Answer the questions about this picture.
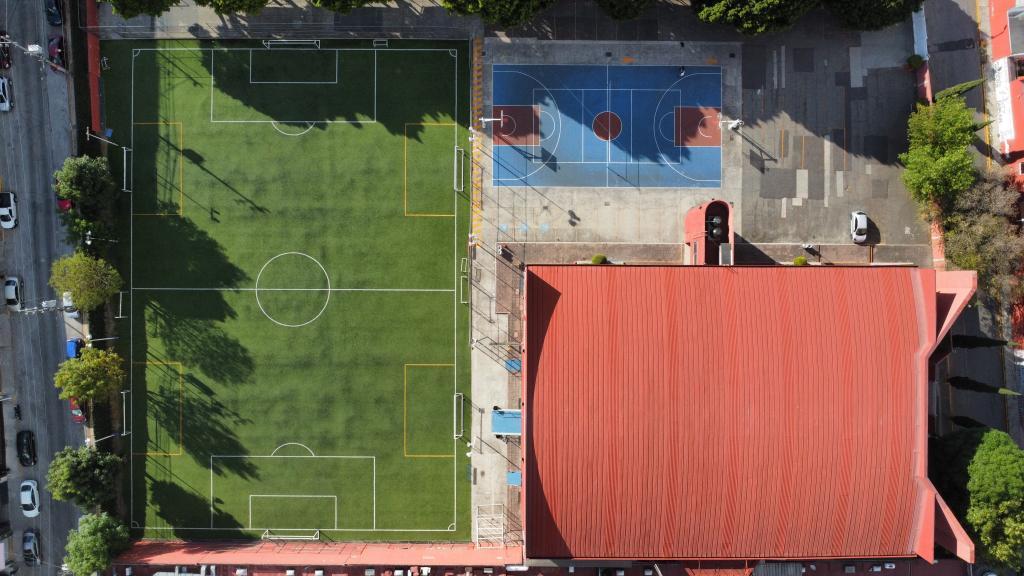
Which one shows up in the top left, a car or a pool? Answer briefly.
car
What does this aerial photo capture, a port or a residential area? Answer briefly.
residential area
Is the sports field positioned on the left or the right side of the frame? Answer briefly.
left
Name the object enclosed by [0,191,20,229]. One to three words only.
vehicle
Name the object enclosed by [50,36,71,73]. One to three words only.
car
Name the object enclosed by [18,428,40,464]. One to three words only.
car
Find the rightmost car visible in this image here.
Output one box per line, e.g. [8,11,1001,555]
[850,211,870,243]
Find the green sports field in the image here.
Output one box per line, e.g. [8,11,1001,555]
[103,40,470,541]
